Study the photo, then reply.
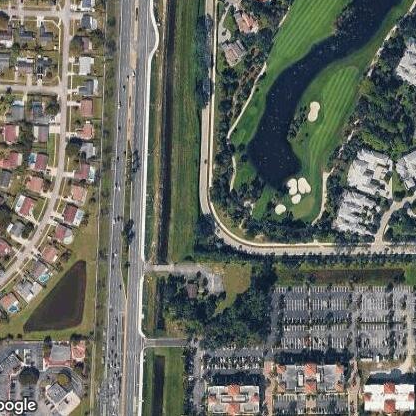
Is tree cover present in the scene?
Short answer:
Yes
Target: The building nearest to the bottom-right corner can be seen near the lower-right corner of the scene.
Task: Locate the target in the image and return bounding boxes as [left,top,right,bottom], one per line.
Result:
[363,384,414,412]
